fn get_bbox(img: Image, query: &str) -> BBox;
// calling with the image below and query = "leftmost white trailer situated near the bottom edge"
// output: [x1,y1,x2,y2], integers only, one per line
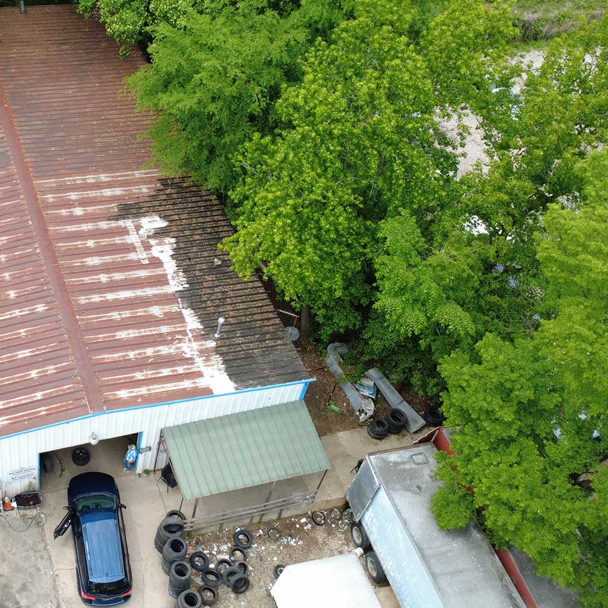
[263,545,381,608]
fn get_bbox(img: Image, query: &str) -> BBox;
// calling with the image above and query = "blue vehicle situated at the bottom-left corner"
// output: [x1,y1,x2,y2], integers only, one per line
[46,471,133,608]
